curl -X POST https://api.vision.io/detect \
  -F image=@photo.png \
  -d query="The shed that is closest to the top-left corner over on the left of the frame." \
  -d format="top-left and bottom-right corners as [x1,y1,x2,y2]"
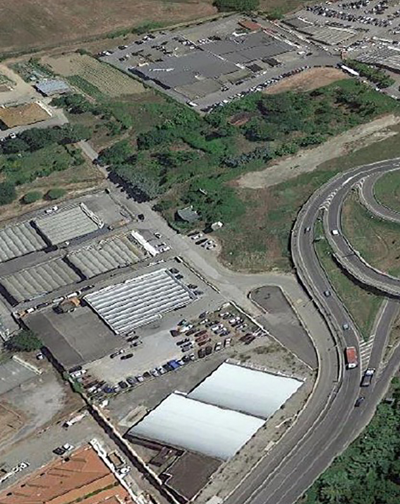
[34,78,70,97]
